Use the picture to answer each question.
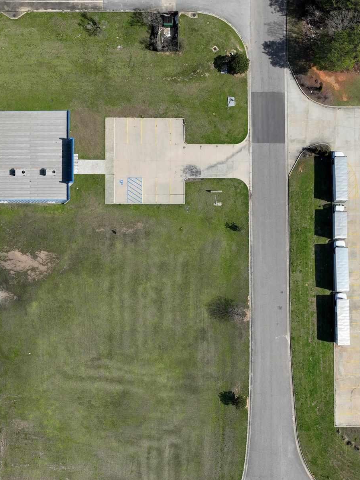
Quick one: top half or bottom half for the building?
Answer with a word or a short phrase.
top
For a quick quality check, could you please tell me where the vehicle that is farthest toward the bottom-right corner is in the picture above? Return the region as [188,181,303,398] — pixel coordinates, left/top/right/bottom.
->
[330,293,349,345]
